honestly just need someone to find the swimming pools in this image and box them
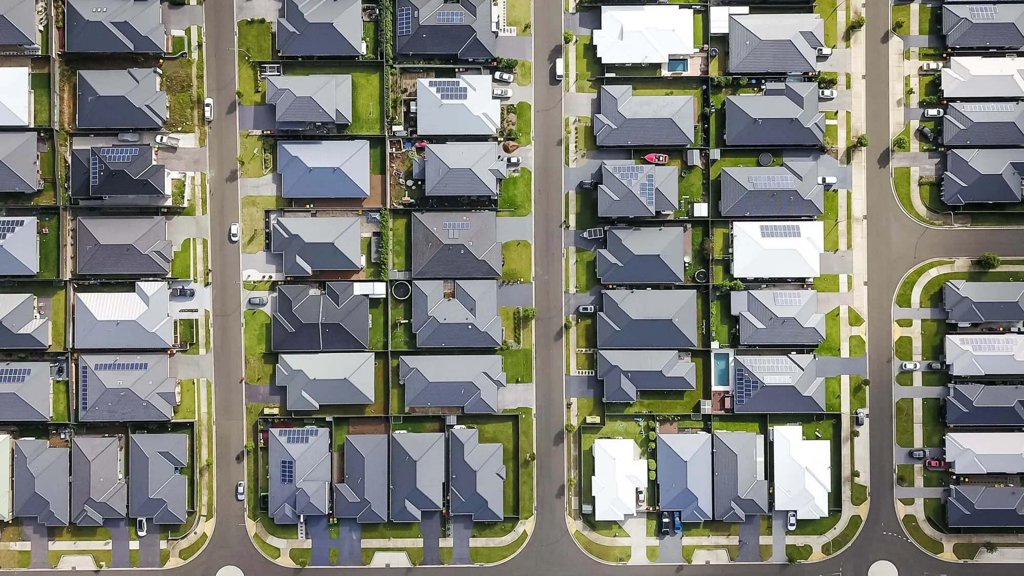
[713,353,730,387]
[667,58,689,72]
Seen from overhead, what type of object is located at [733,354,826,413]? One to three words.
house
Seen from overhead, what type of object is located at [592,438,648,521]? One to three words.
house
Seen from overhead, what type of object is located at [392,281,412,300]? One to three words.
trampoline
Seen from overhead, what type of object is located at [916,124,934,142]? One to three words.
car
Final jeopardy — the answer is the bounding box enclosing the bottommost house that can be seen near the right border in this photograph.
[943,484,1024,527]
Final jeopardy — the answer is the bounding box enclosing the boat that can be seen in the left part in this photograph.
[260,65,280,77]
